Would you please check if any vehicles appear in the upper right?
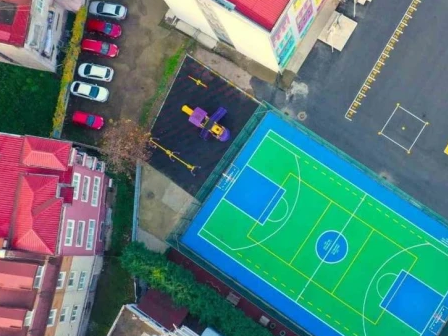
No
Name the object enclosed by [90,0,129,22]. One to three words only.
car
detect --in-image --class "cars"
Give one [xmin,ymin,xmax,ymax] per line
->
[71,80,111,103]
[90,0,129,22]
[77,63,116,83]
[71,110,107,132]
[87,20,124,41]
[81,38,121,59]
